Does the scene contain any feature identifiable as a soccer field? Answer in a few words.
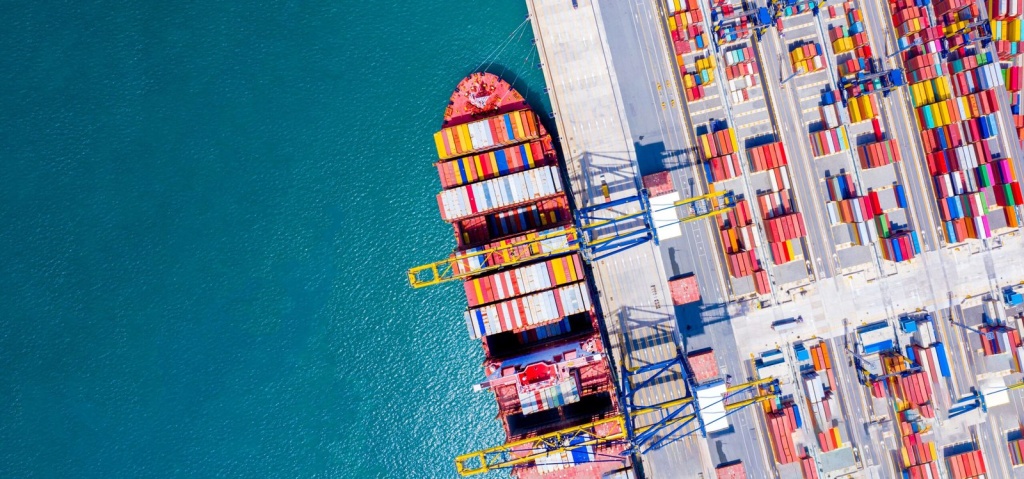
No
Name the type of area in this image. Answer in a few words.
port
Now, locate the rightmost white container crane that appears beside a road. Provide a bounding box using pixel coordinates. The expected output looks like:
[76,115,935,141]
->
[939,374,1024,418]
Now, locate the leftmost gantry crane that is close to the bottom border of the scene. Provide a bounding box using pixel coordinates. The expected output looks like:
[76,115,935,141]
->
[451,340,786,479]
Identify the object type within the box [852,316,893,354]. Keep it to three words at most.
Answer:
building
